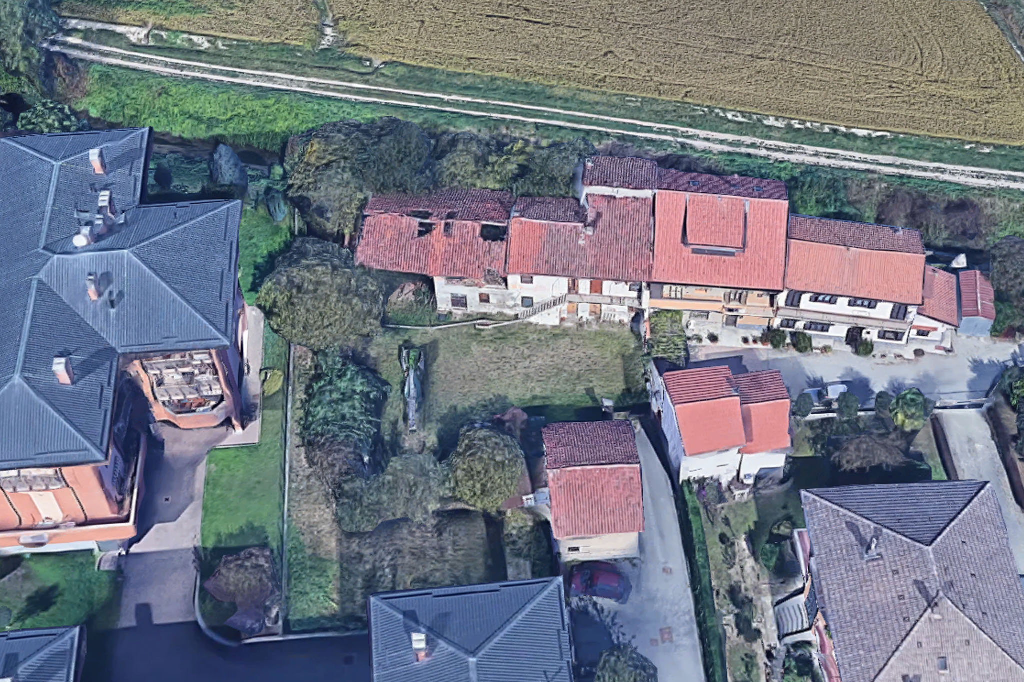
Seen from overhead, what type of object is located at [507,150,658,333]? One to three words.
house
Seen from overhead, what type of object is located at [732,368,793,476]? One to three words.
building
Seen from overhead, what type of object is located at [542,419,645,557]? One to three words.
building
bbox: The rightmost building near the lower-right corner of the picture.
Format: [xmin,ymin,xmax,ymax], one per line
[786,479,1024,682]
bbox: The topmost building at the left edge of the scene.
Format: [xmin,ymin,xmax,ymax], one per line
[0,125,248,568]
